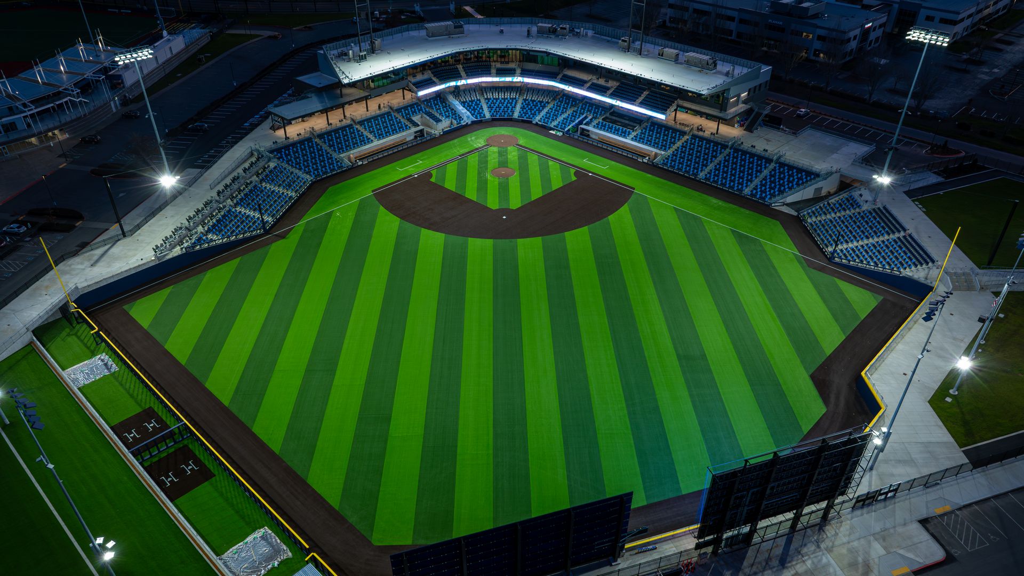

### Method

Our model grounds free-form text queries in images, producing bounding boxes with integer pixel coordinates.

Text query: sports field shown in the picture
[0,12,154,61]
